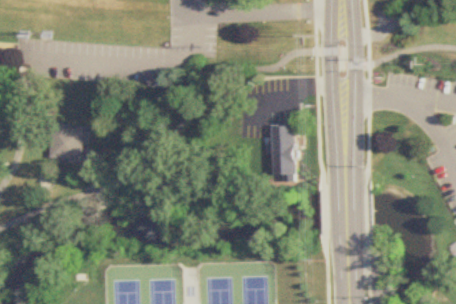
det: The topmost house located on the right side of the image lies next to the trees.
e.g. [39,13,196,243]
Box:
[270,126,307,182]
